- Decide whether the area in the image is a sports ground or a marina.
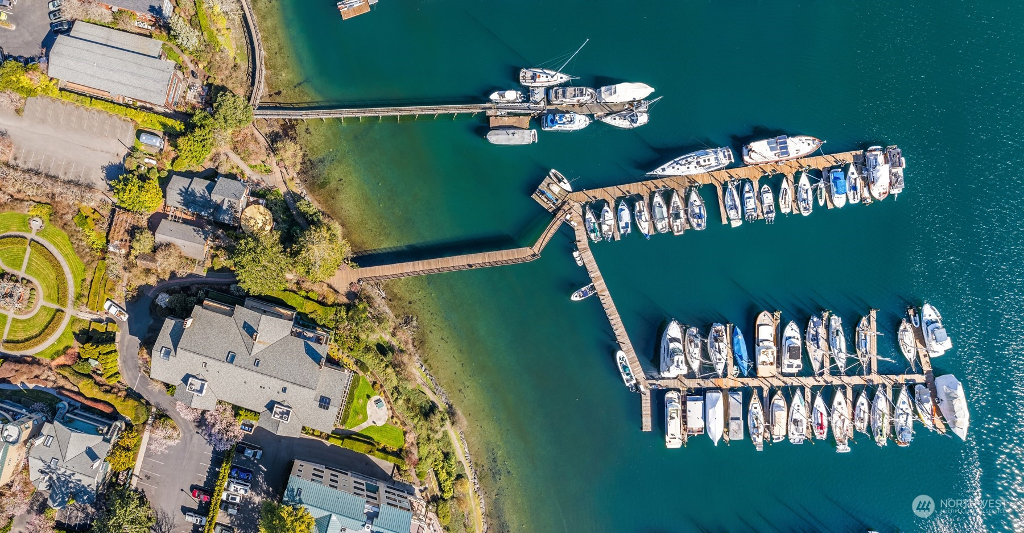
marina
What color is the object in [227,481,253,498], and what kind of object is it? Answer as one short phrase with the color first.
white vehicle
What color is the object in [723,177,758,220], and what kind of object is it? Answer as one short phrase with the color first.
white boat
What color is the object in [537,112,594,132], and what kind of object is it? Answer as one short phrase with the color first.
white boat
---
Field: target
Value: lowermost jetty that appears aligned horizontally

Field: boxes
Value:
[647,374,926,388]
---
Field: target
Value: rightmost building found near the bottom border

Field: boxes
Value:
[280,456,430,533]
